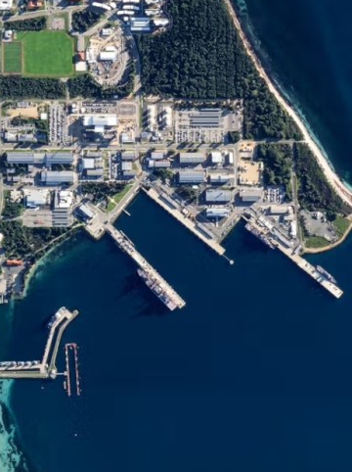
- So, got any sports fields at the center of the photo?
No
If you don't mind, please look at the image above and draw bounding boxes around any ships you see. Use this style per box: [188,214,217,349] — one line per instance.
[245,224,276,249]
[316,265,337,284]
[48,315,58,327]
[140,269,179,312]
